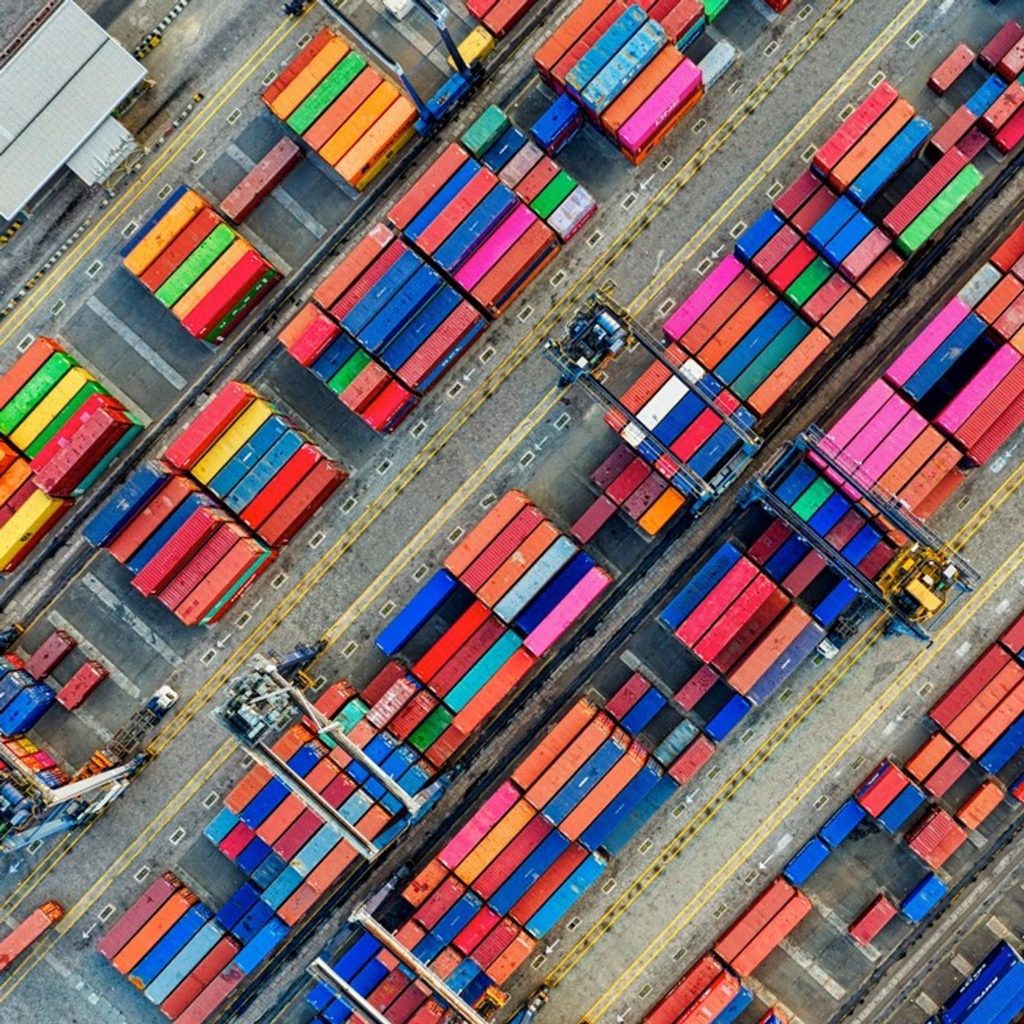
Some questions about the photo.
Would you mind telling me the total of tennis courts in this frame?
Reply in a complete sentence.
No tennis courts are visible.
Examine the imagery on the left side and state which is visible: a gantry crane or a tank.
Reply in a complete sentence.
You can see a gantry crane on the left side.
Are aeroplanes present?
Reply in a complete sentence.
No, I can see no aeroplane in this picture.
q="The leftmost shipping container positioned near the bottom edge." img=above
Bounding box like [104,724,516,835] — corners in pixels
[0,904,60,981]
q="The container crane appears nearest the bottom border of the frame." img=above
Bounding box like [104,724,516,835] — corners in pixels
[304,853,557,1024]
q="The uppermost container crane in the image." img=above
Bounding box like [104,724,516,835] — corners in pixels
[285,0,487,142]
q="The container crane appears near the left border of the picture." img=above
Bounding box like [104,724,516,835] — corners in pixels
[0,726,153,871]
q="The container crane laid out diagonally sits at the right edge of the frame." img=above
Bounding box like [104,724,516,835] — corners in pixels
[741,424,983,647]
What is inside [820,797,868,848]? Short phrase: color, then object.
blue shipping container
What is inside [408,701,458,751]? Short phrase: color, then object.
green shipping container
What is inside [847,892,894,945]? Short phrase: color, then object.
red shipping container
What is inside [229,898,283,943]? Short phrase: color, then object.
blue shipping container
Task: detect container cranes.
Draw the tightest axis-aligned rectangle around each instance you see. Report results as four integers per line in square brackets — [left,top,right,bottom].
[285,0,487,142]
[304,853,557,1024]
[741,424,983,647]
[208,633,469,864]
[551,293,770,511]
[0,726,153,871]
